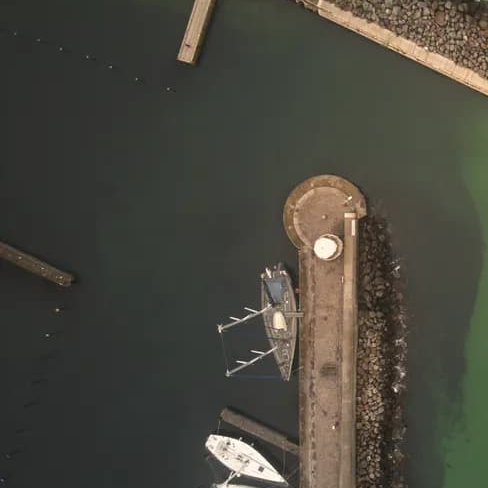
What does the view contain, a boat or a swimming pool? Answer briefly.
boat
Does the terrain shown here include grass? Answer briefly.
No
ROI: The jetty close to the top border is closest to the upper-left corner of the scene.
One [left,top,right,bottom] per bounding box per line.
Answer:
[177,0,218,65]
